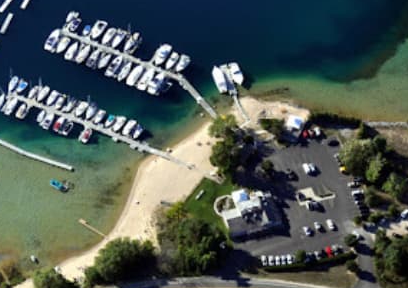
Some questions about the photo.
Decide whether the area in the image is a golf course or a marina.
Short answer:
marina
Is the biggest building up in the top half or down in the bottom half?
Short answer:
bottom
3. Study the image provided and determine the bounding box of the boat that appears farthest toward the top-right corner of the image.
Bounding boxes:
[228,62,243,86]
